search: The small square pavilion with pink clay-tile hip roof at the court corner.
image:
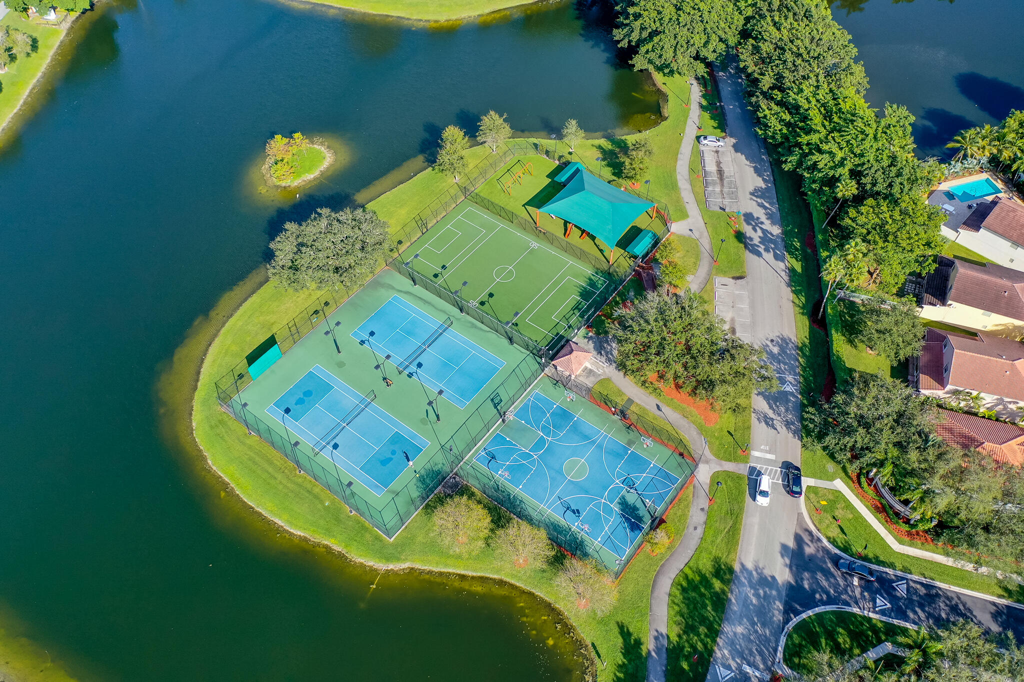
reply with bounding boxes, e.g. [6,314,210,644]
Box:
[551,341,593,386]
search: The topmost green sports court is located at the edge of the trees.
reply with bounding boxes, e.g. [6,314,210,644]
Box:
[387,198,628,373]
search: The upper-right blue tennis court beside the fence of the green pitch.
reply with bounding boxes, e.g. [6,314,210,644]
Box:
[350,294,506,409]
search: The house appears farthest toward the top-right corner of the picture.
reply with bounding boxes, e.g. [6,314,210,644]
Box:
[952,198,1024,277]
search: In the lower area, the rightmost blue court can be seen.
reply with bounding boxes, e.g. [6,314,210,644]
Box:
[454,374,695,578]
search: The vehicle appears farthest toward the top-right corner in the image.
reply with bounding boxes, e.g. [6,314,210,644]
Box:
[700,135,725,147]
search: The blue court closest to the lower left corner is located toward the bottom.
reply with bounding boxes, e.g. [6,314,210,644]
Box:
[265,364,430,496]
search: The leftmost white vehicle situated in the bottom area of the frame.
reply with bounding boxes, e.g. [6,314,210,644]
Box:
[756,473,773,506]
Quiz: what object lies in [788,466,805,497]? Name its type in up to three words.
car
